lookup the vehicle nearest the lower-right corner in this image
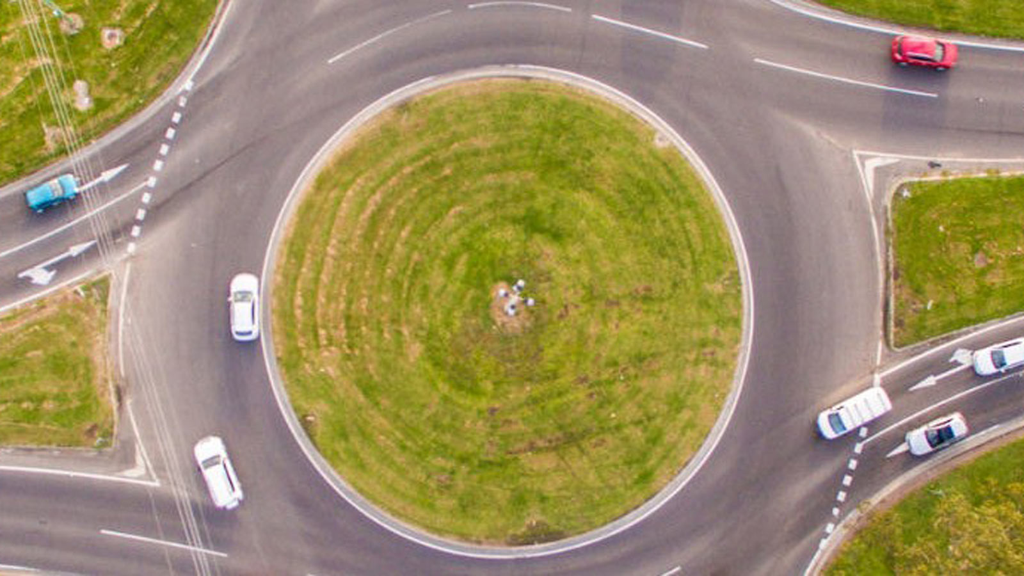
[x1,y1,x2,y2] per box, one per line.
[904,411,965,452]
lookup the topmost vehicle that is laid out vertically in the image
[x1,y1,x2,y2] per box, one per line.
[227,273,261,341]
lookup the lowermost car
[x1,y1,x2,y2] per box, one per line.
[198,435,245,512]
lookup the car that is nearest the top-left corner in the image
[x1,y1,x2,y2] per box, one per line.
[25,173,83,211]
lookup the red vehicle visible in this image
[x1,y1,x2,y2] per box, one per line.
[890,38,958,70]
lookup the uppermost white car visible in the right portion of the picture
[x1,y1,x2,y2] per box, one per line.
[969,332,1024,372]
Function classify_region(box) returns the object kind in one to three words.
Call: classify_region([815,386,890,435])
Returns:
van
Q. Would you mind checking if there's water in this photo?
No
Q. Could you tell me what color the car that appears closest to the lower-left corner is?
white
